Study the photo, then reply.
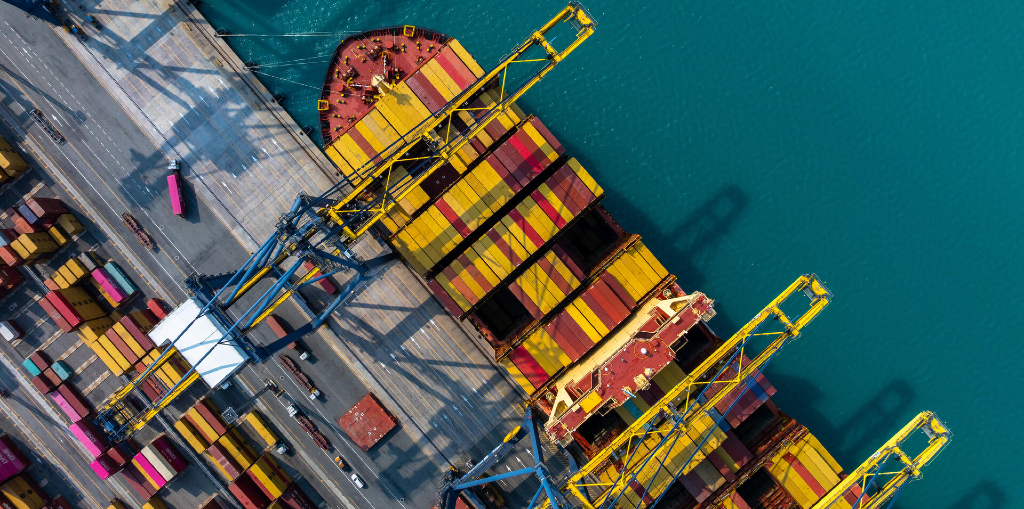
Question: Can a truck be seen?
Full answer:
Yes, the photo shows a truck.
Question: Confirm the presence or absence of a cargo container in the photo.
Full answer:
Yes, a cargo container is visible in the scene.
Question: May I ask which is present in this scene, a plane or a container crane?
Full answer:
The one in the frame is a container crane.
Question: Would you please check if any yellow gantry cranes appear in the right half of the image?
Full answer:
Yes, a yellow gantry crane can be seen in the right half of the image.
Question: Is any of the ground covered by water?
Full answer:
Yes, there is water in the image.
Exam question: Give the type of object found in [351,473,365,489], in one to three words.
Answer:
car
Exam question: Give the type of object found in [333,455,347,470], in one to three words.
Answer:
vehicle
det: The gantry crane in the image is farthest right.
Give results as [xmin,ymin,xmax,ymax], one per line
[800,406,952,509]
